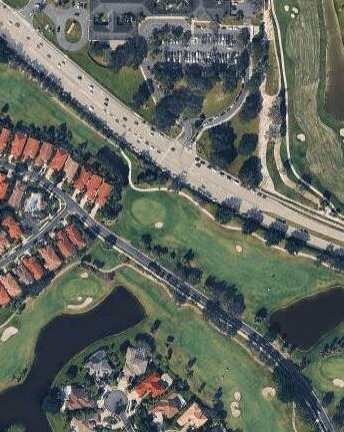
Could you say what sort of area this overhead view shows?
golf course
